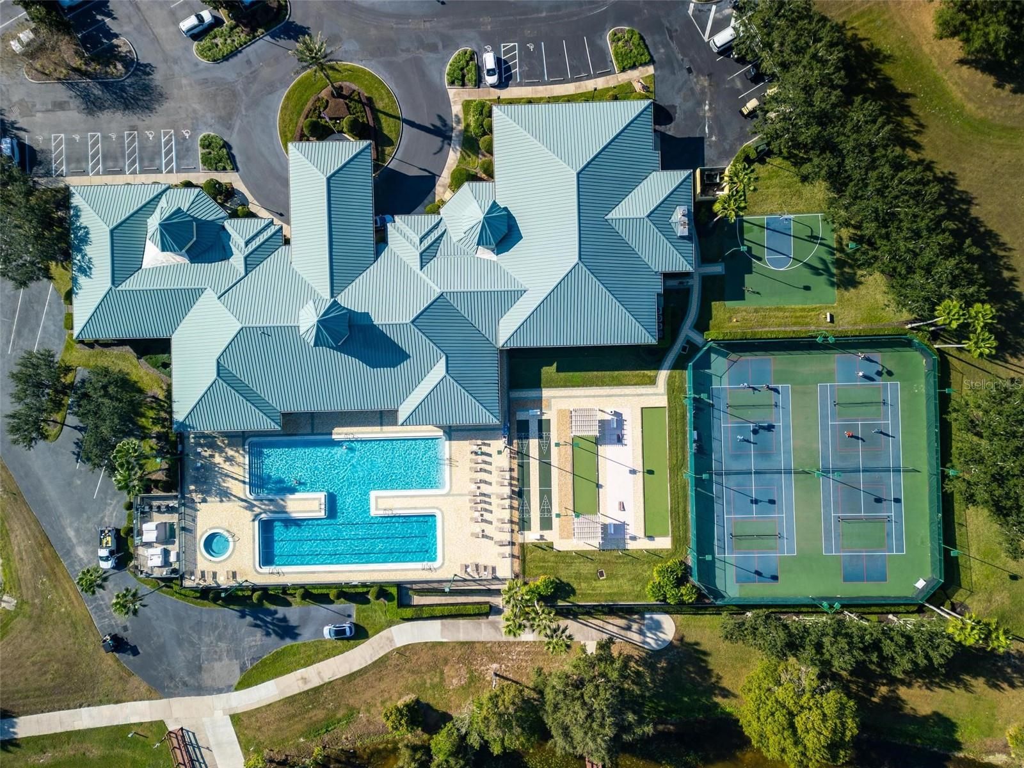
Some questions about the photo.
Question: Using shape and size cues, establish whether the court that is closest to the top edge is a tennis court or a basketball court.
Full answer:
The court that is closest to the top edge is a basketball court.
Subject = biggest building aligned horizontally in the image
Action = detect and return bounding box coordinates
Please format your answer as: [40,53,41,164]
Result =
[69,99,695,432]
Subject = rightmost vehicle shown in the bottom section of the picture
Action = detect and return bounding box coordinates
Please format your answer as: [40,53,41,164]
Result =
[323,622,355,640]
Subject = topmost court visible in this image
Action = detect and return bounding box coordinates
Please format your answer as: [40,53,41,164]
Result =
[724,214,836,307]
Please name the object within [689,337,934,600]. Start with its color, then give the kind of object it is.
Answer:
green tennis court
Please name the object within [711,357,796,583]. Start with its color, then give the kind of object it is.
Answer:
blue tennis court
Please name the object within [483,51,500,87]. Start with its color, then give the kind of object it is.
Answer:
white car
